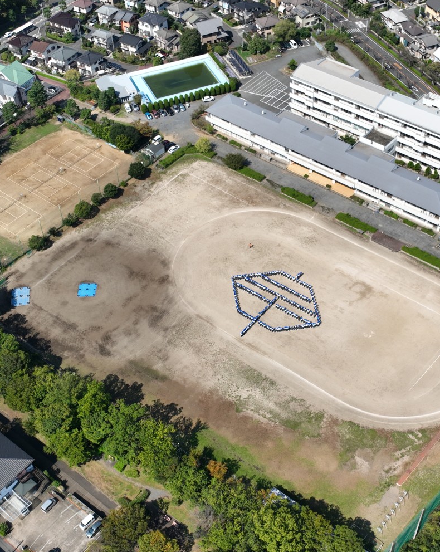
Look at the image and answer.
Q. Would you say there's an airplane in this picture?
No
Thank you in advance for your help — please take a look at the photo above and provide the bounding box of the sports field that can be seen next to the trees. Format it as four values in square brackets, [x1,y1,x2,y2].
[0,154,440,552]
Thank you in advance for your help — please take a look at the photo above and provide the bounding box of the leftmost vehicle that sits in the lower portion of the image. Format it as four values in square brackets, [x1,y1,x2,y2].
[15,503,34,523]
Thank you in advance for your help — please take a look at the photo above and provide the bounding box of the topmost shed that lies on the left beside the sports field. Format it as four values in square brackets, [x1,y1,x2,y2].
[143,138,172,161]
